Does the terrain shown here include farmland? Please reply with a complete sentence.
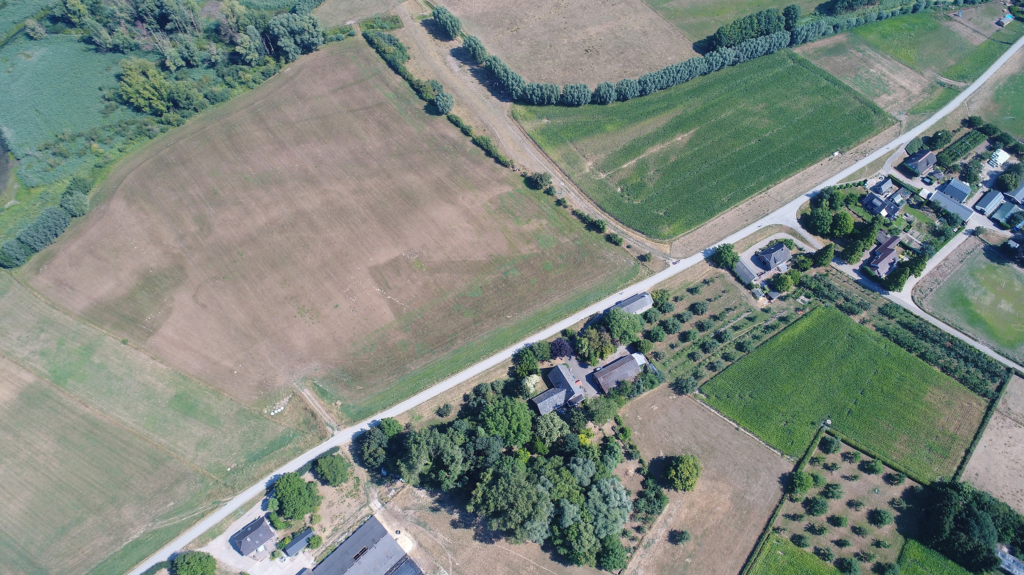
Yes, the picture does contain farmland.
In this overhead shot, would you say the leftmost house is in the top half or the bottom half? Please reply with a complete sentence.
You can find the leftmost house in the bottom half.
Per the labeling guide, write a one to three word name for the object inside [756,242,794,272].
house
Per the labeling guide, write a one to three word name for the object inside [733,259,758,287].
building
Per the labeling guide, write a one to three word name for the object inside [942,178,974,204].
barn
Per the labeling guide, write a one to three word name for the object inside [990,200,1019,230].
shed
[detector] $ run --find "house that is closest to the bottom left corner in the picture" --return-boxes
[233,515,277,558]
